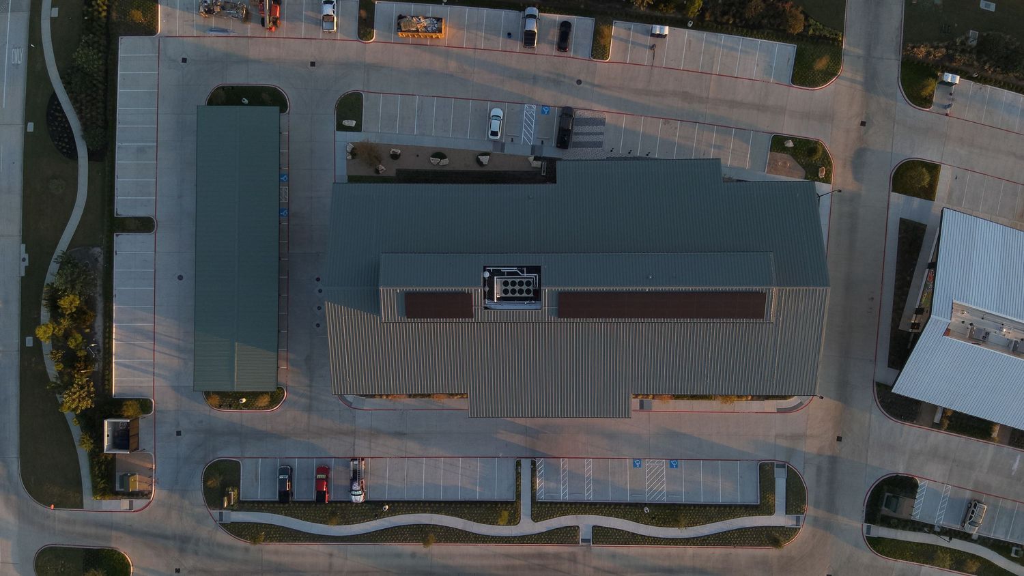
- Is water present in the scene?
No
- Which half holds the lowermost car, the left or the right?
right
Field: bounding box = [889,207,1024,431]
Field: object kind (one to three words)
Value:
building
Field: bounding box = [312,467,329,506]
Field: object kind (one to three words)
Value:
vehicle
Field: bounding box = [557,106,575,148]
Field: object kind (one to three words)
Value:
vehicle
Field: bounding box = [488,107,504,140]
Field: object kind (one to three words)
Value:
car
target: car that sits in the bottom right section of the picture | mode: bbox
[966,501,991,536]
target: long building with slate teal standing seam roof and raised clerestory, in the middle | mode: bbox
[323,158,832,419]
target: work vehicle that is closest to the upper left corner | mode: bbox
[257,0,280,33]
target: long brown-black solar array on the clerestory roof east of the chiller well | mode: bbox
[558,291,766,319]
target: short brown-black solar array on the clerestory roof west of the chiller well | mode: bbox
[405,291,473,319]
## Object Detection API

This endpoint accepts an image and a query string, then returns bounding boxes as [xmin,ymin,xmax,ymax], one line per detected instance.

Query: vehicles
[522,4,539,47]
[312,467,329,506]
[557,106,575,148]
[557,18,573,51]
[488,107,504,140]
[966,501,991,536]
[346,460,365,504]
[273,467,291,506]
[319,0,337,30]
[257,0,280,33]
